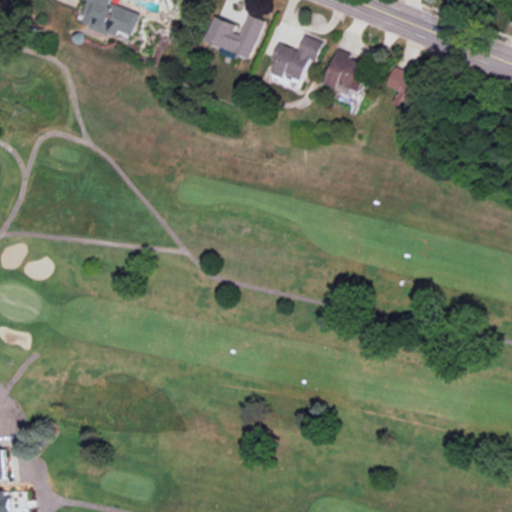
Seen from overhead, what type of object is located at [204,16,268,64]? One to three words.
house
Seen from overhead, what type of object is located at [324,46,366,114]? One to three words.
house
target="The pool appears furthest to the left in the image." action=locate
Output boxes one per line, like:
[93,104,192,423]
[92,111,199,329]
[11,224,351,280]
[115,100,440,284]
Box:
[71,32,84,46]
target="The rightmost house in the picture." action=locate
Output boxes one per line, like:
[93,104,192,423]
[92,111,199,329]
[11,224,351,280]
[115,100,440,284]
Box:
[386,66,408,108]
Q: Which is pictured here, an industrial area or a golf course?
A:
golf course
